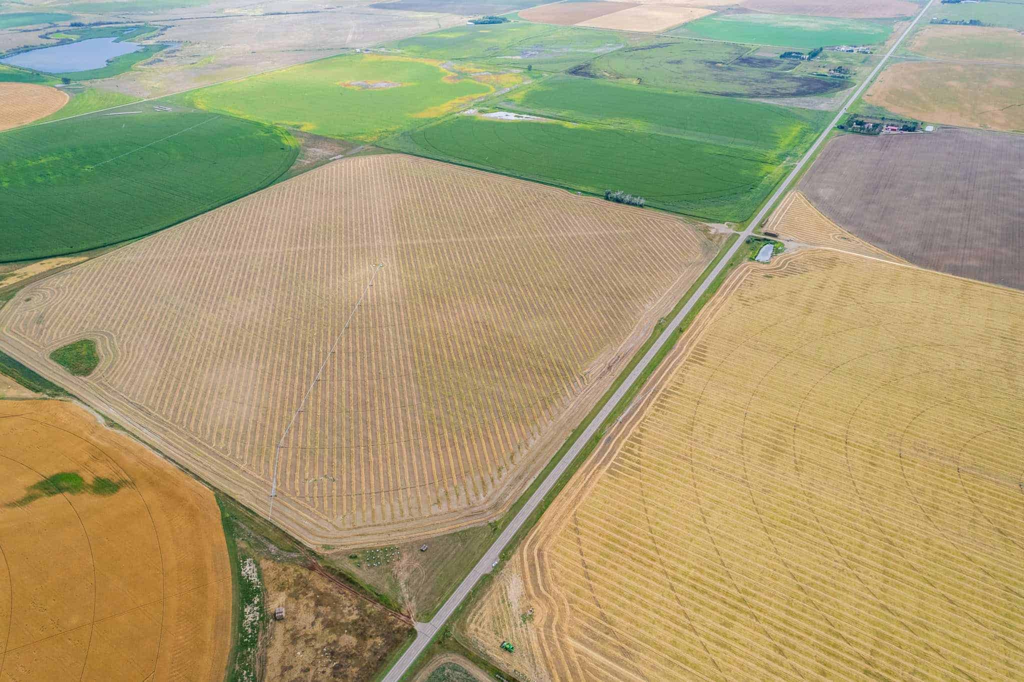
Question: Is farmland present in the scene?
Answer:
Yes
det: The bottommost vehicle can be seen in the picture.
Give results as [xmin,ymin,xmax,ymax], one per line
[497,639,514,652]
